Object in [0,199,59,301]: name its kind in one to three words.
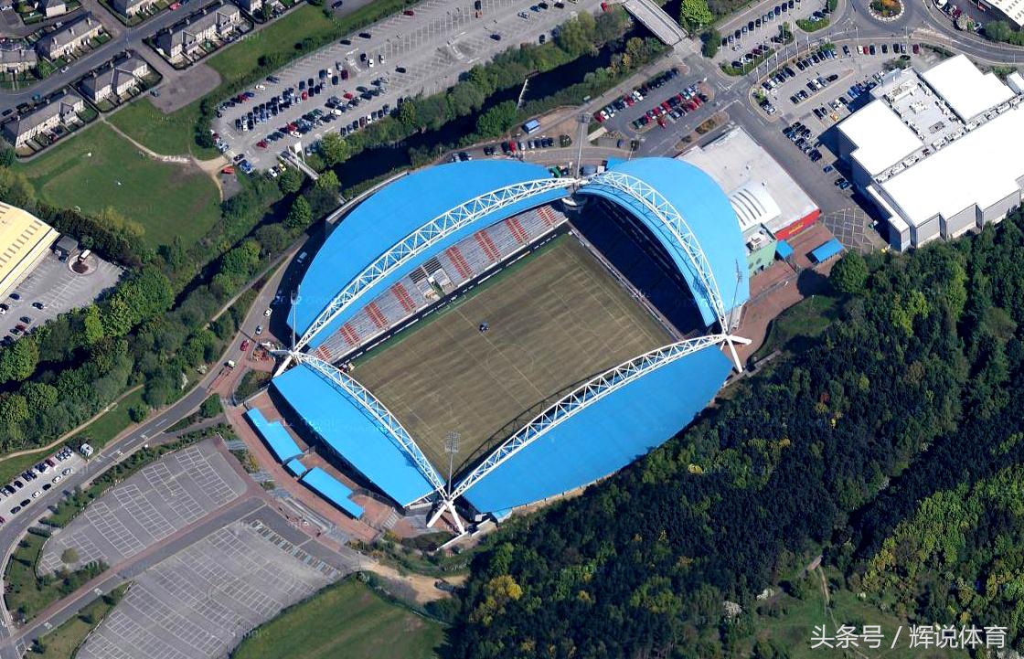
shed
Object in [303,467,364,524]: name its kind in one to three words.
building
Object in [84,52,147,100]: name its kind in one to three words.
house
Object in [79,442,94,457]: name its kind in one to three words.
camper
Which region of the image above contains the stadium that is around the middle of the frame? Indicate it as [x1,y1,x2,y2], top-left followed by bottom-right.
[271,157,749,536]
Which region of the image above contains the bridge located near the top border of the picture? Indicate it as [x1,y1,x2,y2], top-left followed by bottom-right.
[621,0,688,46]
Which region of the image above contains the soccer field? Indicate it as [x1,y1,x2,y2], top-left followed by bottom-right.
[327,224,688,499]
